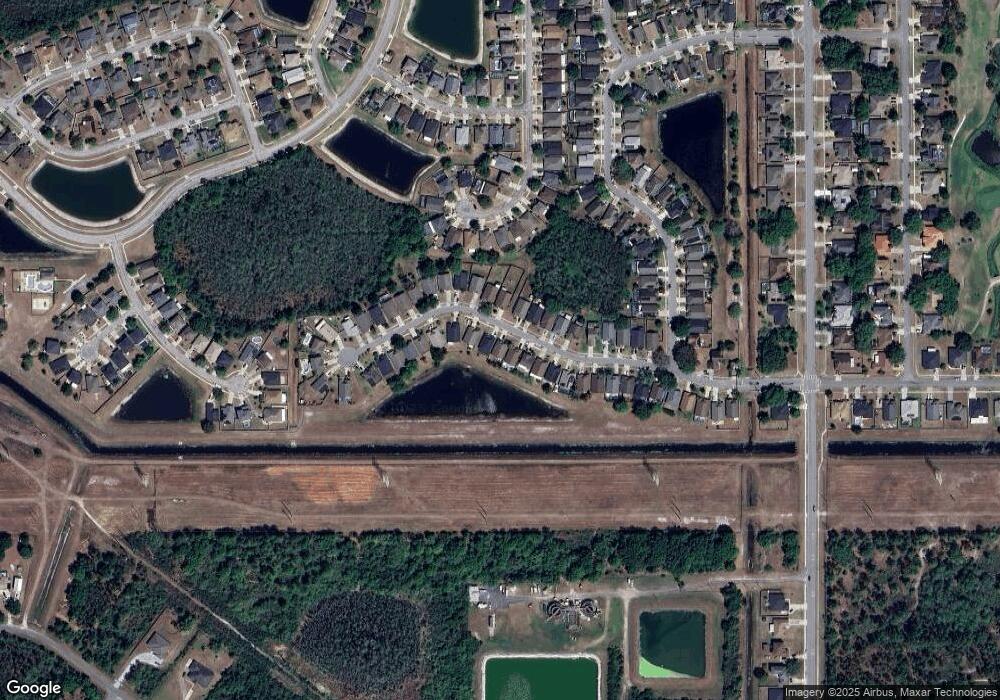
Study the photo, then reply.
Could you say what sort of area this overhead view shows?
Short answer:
residential area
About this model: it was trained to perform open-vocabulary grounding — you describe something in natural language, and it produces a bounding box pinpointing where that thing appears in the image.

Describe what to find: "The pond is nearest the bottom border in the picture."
[482,656,601,700]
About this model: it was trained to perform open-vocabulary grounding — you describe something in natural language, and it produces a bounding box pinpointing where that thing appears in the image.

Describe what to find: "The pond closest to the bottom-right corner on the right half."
[639,610,707,679]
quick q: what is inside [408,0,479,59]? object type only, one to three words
pond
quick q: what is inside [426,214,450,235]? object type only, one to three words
house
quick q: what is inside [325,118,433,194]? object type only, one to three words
pond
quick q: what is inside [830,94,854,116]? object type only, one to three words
house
